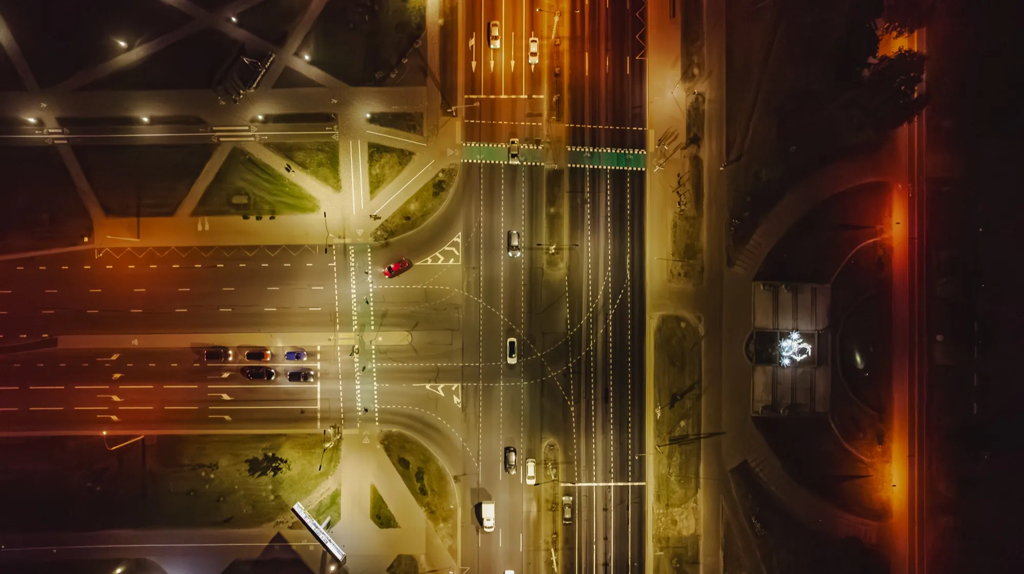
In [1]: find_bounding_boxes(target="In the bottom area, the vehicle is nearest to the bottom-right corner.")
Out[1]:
[561,496,574,525]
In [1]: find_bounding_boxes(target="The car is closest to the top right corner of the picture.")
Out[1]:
[527,35,540,63]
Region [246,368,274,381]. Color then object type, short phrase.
black vehicle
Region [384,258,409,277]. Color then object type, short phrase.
red car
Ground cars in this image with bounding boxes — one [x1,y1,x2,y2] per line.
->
[508,137,520,165]
[524,459,537,487]
[246,368,274,381]
[504,447,517,475]
[507,230,520,258]
[506,337,518,365]
[561,496,574,525]
[203,348,232,361]
[244,349,270,362]
[284,350,306,361]
[527,35,540,63]
[384,258,409,277]
[487,19,500,47]
[287,370,313,383]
